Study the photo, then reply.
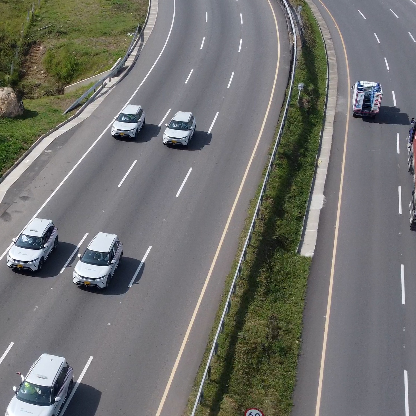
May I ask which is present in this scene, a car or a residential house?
car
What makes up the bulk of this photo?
paved ground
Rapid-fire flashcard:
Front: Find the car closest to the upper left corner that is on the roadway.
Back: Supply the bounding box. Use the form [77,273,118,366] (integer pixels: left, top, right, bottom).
[113,101,148,136]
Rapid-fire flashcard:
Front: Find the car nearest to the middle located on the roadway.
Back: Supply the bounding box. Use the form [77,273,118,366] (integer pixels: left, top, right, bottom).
[166,106,199,143]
